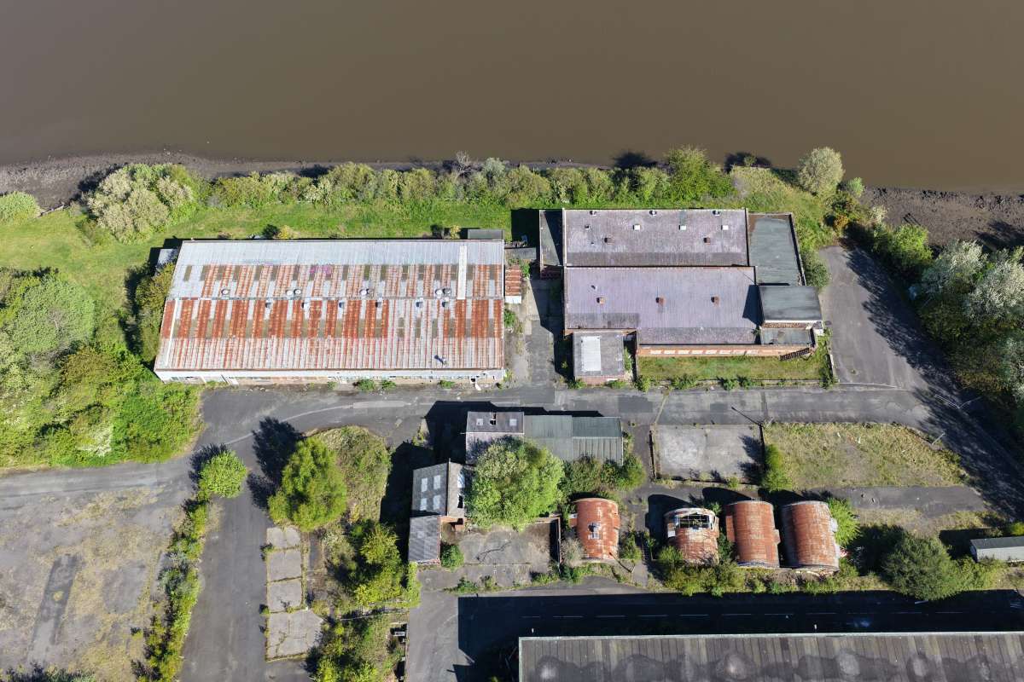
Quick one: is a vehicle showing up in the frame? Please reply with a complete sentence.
No, I can't see a single vehicle in this photo.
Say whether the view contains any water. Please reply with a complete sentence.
Yes, water can be seen from above here.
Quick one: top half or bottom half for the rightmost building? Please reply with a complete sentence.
You can find the rightmost building in the bottom half.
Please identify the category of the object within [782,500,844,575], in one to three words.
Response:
shed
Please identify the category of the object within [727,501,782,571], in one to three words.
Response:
shed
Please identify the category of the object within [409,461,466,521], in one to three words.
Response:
house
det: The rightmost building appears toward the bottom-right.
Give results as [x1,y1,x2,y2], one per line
[965,540,1024,570]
